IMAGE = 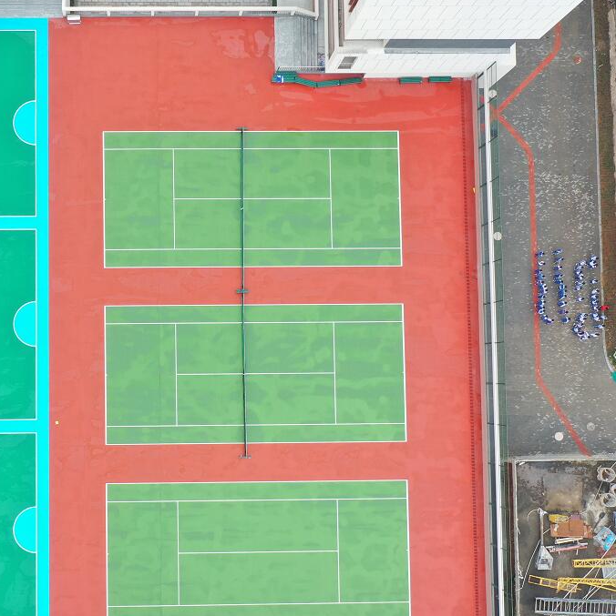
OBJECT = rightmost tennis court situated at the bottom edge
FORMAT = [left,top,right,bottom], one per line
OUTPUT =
[107,480,411,616]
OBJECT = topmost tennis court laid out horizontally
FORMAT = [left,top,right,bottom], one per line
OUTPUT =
[103,129,403,268]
